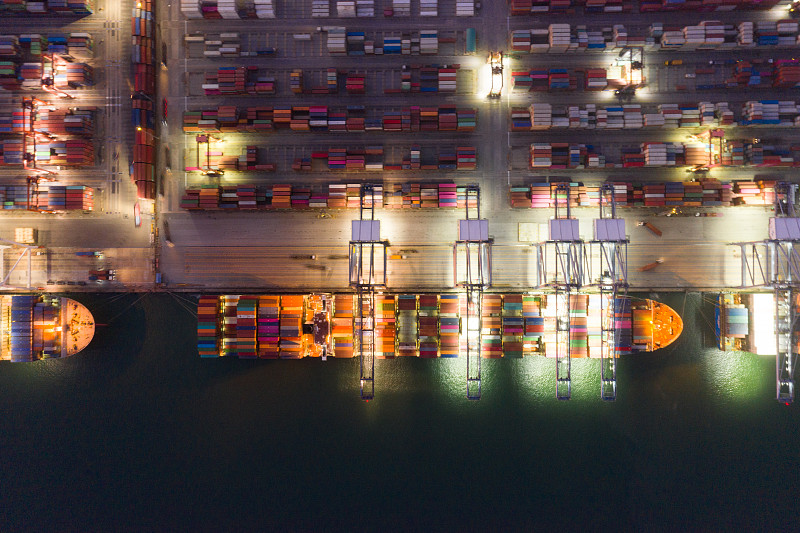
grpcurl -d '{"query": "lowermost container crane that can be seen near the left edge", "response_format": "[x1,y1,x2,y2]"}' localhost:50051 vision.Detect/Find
[0,239,46,288]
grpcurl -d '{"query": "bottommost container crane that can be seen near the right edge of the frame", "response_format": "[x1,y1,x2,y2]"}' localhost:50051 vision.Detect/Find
[727,184,800,404]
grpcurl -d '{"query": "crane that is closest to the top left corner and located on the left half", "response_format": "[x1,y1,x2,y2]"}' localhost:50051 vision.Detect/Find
[41,53,77,97]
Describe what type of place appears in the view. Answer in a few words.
port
